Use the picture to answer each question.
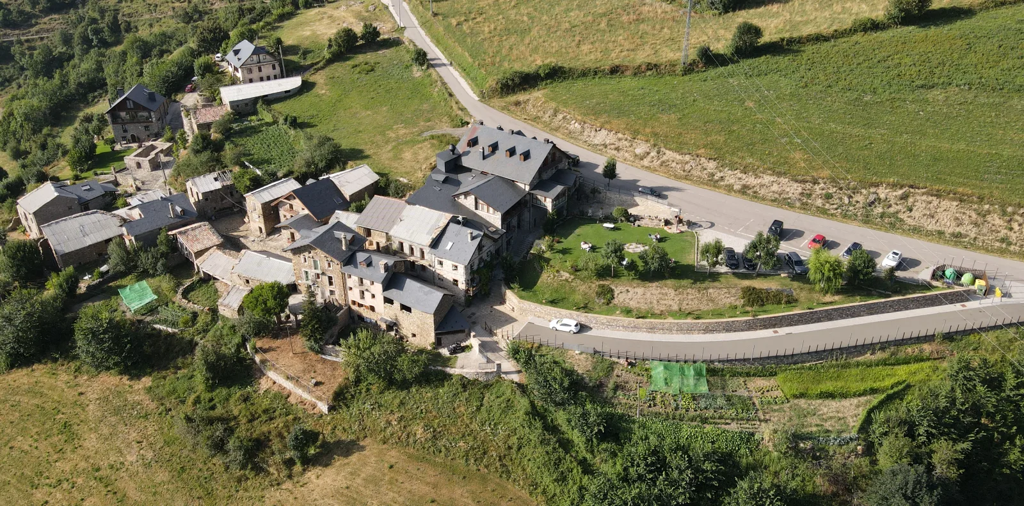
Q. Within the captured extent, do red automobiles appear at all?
Yes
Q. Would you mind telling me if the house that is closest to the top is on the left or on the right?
left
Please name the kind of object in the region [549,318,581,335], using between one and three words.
car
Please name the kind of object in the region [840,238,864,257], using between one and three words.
car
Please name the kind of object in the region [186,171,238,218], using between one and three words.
barn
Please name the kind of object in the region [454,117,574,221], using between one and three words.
building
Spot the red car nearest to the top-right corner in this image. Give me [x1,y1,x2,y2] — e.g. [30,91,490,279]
[807,231,828,248]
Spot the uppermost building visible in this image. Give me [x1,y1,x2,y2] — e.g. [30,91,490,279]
[226,39,276,82]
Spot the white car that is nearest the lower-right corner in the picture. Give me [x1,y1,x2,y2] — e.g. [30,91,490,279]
[881,250,904,267]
